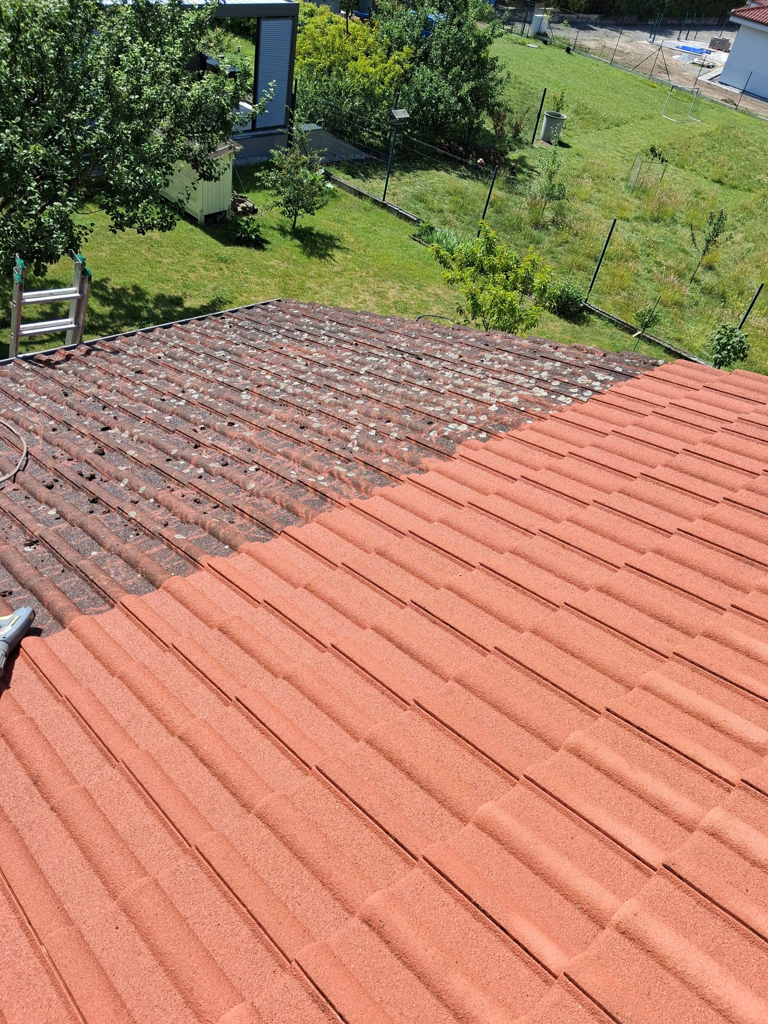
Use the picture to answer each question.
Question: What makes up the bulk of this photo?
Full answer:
For the most part, this view shows buildings.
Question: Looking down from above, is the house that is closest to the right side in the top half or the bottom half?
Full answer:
The top half of the photo is where the house that is closest to the right side is.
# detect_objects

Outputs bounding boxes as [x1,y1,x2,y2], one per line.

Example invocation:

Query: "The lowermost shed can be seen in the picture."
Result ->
[0,290,768,1024]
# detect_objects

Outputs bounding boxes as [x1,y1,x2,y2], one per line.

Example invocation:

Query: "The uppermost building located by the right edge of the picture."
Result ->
[718,2,768,101]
